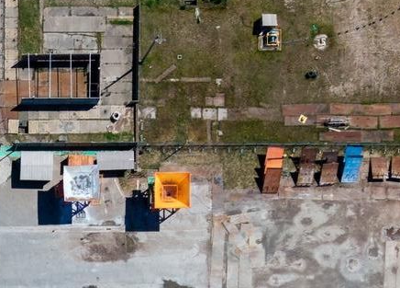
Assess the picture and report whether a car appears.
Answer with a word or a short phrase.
No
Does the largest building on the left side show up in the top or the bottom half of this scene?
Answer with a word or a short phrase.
top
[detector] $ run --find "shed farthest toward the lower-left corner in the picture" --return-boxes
[18,151,53,182]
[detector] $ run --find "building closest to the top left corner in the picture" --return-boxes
[24,53,100,102]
